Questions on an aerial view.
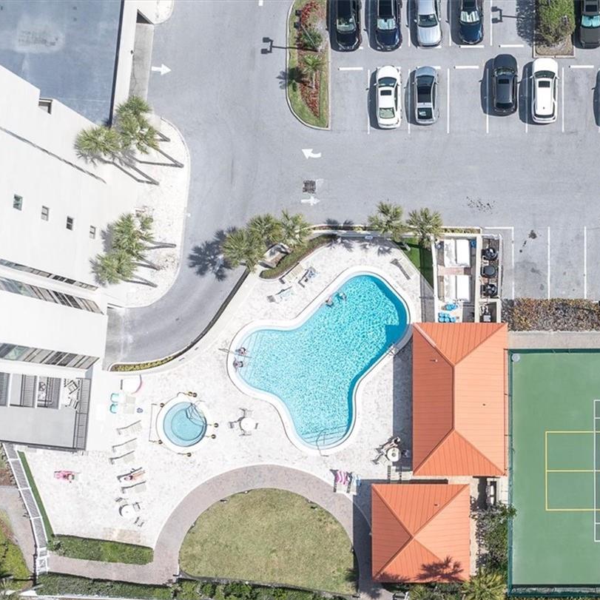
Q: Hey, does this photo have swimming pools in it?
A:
Yes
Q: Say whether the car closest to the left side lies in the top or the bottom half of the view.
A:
top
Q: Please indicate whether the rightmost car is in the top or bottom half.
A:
top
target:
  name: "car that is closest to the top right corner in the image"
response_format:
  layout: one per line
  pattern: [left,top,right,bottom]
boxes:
[577,0,600,52]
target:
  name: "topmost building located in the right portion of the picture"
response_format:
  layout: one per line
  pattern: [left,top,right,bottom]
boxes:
[413,323,508,476]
